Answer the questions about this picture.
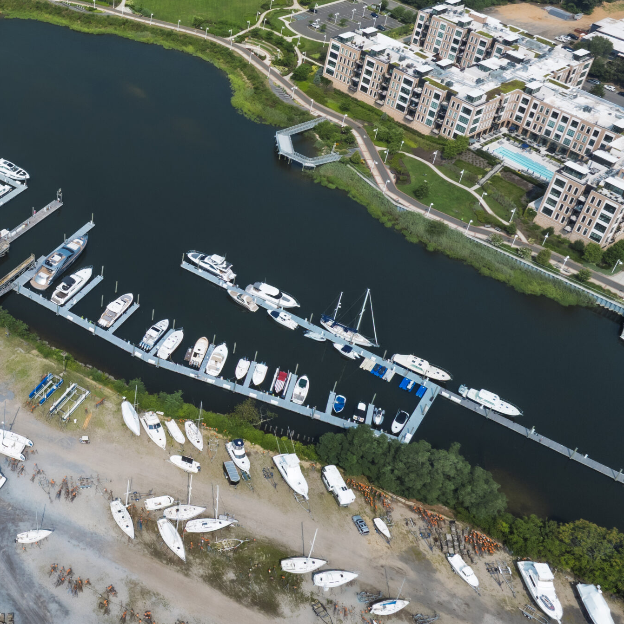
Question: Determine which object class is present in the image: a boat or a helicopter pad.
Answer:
boat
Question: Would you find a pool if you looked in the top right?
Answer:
Yes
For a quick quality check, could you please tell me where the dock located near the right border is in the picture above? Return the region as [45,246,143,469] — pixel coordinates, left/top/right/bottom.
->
[438,389,624,485]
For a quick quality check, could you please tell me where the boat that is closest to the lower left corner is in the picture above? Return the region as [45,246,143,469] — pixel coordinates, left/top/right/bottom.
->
[16,501,53,545]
